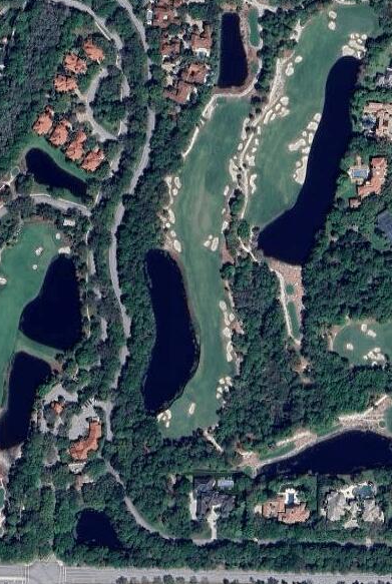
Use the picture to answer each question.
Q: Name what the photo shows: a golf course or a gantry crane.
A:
golf course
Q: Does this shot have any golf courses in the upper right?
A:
Yes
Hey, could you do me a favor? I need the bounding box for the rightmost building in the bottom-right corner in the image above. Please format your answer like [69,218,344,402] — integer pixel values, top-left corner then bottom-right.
[345,497,385,527]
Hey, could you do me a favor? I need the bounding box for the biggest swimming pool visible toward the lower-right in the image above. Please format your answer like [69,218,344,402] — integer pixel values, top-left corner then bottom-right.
[352,484,375,499]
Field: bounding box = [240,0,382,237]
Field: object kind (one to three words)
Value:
golf course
